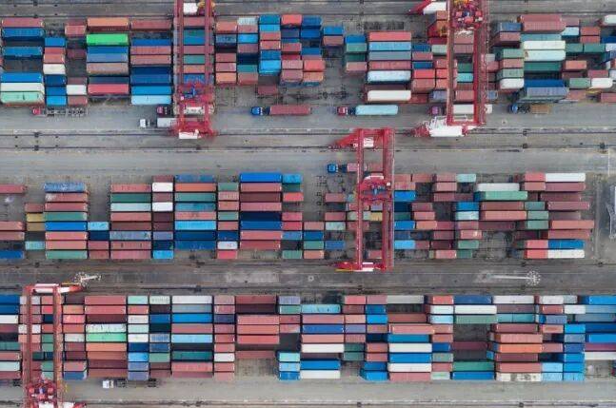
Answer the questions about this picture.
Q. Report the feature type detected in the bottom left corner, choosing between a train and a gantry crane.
gantry crane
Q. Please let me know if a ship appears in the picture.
No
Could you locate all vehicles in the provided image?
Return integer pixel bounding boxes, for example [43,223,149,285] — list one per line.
[0,379,22,388]
[250,106,272,116]
[32,106,86,117]
[140,118,162,128]
[326,163,347,173]
[336,105,358,116]
[157,105,175,115]
[429,105,445,115]
[509,105,551,114]
[102,380,155,389]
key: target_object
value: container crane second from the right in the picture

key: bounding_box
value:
[323,129,393,273]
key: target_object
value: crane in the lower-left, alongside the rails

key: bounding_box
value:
[21,281,87,408]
